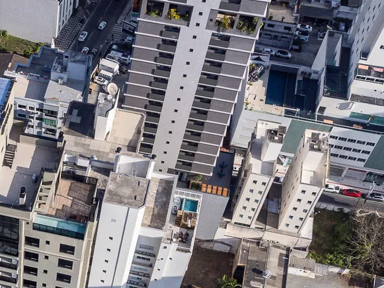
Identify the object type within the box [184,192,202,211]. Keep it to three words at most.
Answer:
swimming pool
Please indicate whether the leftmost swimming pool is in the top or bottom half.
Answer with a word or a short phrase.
bottom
